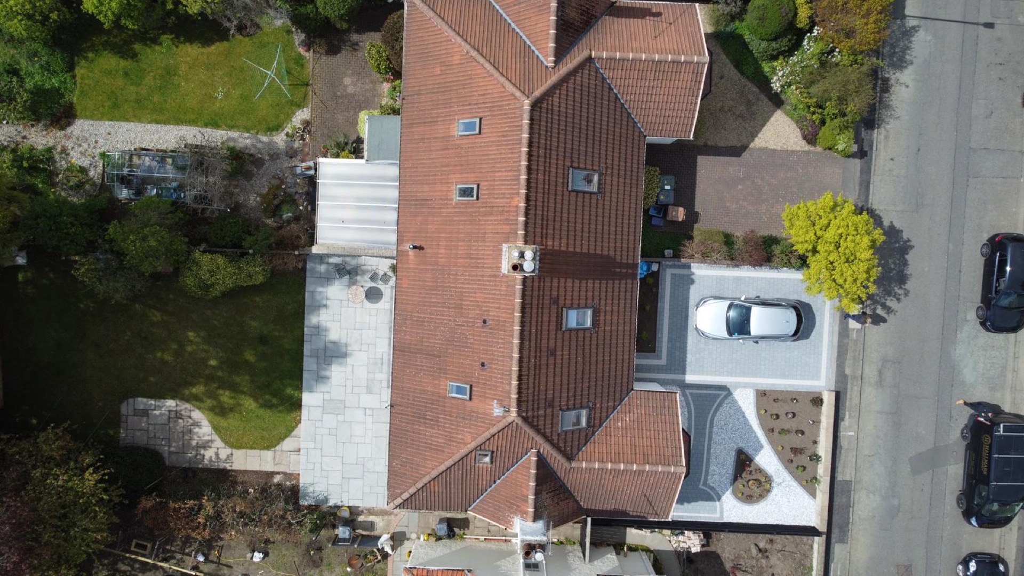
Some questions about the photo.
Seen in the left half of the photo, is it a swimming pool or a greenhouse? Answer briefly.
greenhouse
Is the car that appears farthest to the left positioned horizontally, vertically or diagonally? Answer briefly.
horizontally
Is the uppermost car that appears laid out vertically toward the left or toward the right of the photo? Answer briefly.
right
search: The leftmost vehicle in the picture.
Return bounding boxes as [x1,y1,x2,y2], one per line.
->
[690,292,803,346]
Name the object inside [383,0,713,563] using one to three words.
house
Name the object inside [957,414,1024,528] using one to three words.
van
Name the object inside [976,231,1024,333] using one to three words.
car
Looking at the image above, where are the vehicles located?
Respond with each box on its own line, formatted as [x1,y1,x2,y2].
[976,231,1024,333]
[957,414,1024,528]
[690,292,803,346]
[950,554,1007,576]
